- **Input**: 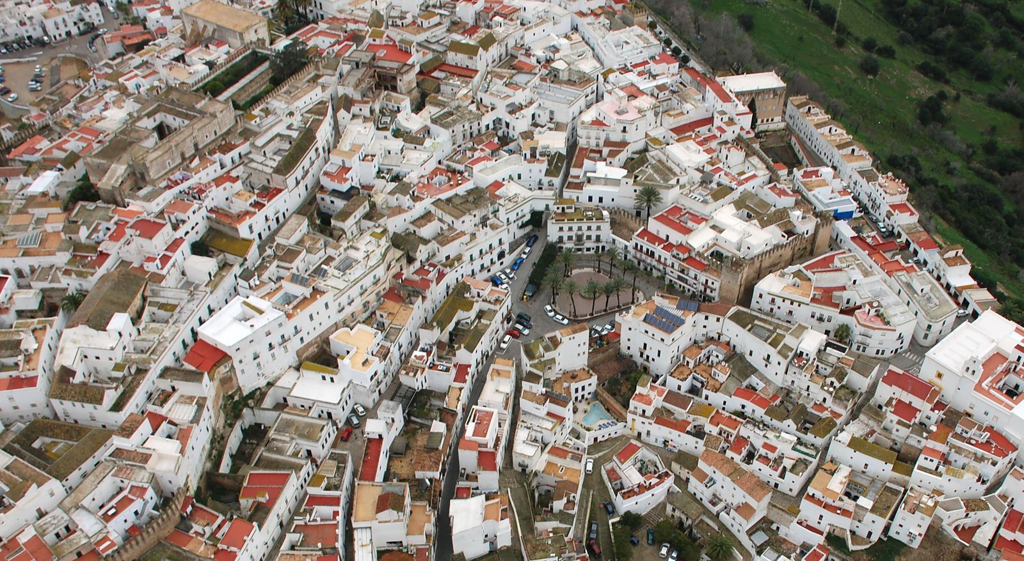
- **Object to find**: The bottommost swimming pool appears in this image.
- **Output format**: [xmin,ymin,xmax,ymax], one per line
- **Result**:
[571,392,628,443]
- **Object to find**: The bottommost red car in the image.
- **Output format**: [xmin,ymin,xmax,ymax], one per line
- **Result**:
[589,539,602,555]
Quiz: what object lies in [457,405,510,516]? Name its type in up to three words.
house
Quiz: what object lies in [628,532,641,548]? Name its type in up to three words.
vehicle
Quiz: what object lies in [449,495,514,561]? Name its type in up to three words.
house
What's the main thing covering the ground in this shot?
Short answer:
buildings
